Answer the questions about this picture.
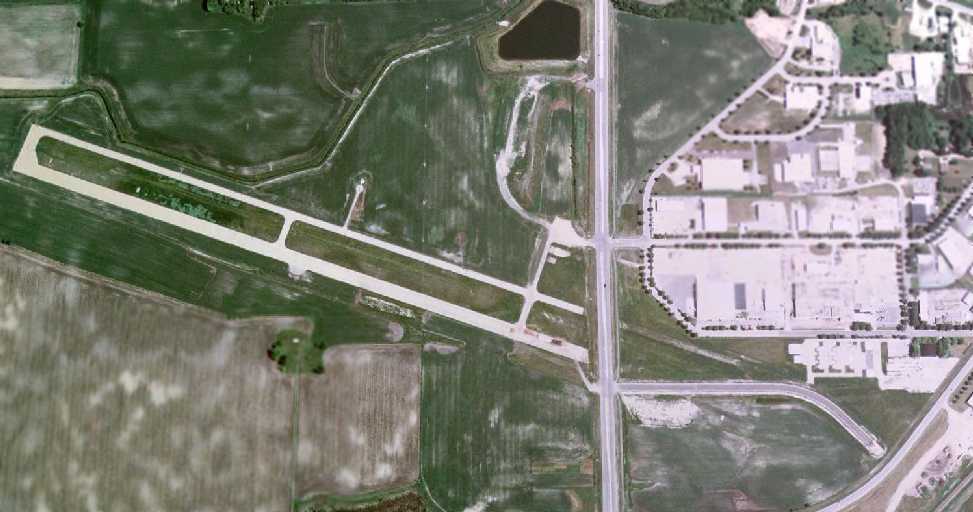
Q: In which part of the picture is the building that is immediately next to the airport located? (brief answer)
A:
right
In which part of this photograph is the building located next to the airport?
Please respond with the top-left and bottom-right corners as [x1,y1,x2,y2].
[654,251,764,321]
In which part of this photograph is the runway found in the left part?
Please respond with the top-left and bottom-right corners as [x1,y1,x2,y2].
[14,164,588,361]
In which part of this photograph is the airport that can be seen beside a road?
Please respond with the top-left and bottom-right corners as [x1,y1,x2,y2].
[13,123,596,361]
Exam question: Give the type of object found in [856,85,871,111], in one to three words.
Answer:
building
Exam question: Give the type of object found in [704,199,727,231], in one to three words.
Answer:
building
